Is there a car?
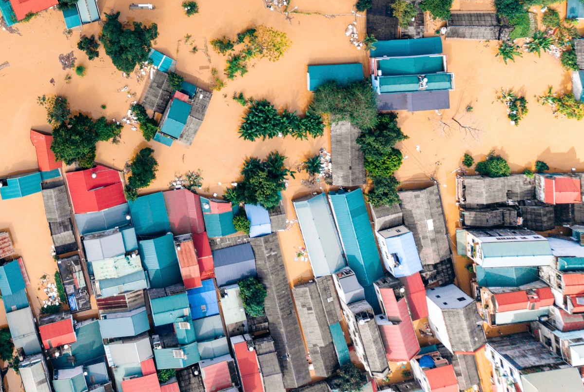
No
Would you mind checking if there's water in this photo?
Yes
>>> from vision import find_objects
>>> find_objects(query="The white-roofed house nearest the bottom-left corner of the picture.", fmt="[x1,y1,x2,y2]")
[18,345,51,392]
